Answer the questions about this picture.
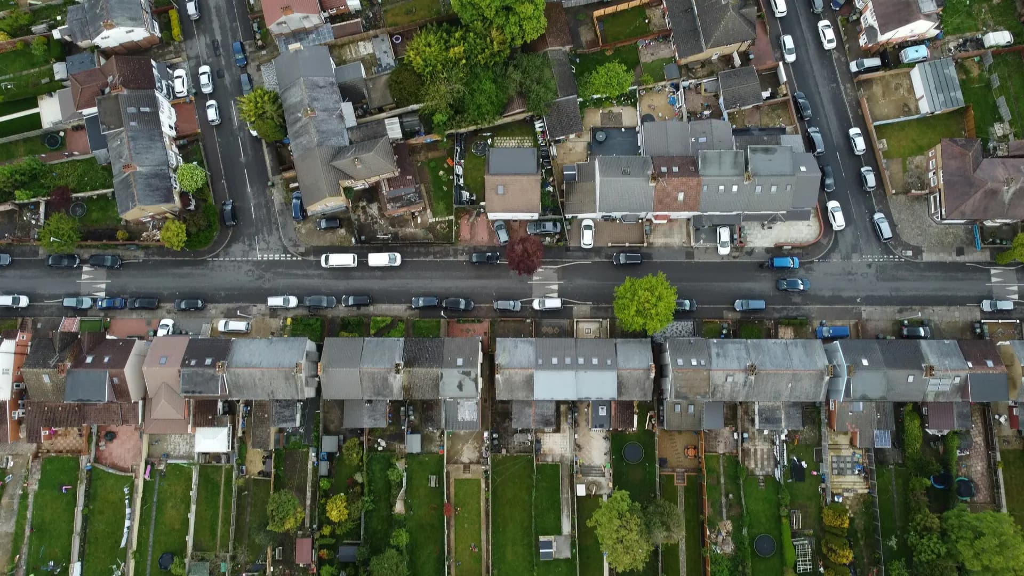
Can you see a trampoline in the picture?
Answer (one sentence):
Yes, the photo shows a trampoline.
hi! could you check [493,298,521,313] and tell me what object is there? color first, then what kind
gray car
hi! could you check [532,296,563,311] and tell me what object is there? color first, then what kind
white car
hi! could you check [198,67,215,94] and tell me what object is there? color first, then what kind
white car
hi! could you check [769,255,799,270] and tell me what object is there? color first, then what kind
blue car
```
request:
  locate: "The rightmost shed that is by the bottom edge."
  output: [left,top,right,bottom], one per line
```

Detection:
[539,538,553,561]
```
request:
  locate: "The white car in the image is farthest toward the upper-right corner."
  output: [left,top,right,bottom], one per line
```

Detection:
[979,30,1012,49]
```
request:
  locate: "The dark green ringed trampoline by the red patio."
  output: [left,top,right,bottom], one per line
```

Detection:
[39,131,63,149]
